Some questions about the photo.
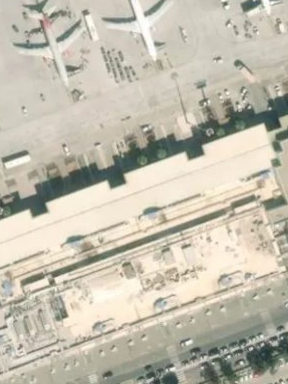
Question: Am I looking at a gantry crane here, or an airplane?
airplane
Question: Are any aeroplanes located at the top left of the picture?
Yes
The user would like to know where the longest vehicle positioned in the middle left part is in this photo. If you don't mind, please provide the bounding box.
[2,152,31,168]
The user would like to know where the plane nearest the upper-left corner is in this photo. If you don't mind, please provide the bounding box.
[19,5,84,85]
